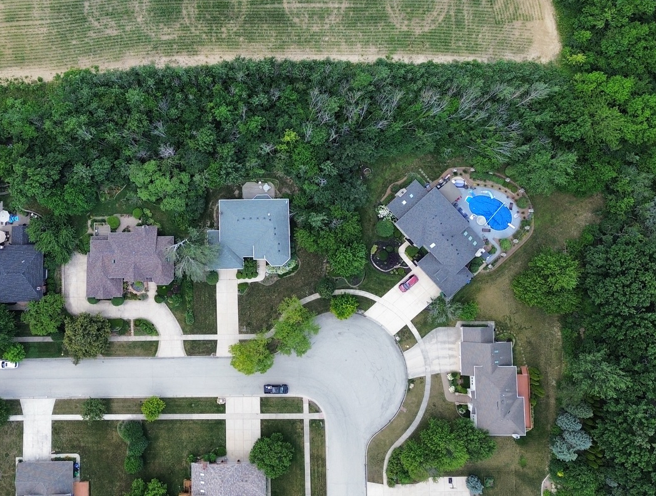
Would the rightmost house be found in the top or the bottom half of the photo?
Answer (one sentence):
You can find the rightmost house in the bottom half.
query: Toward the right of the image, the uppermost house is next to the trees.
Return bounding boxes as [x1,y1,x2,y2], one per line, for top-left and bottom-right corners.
[385,179,486,297]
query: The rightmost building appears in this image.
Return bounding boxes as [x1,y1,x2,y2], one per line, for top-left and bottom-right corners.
[457,325,526,439]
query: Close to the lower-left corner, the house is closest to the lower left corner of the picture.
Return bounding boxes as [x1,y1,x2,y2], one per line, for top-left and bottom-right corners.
[15,455,76,496]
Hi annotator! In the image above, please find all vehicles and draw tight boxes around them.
[398,273,419,292]
[0,360,19,369]
[264,383,289,395]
